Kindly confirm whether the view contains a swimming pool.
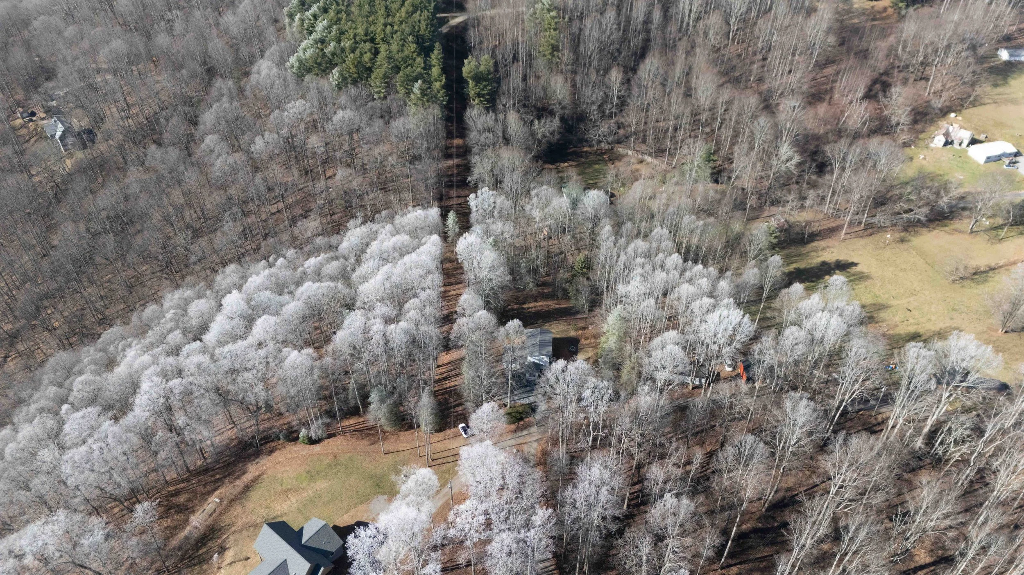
No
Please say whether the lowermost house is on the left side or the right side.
left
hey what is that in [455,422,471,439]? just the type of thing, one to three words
car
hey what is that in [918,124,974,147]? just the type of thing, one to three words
house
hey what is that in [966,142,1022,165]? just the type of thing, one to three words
house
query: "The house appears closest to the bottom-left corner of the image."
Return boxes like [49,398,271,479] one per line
[245,519,344,575]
